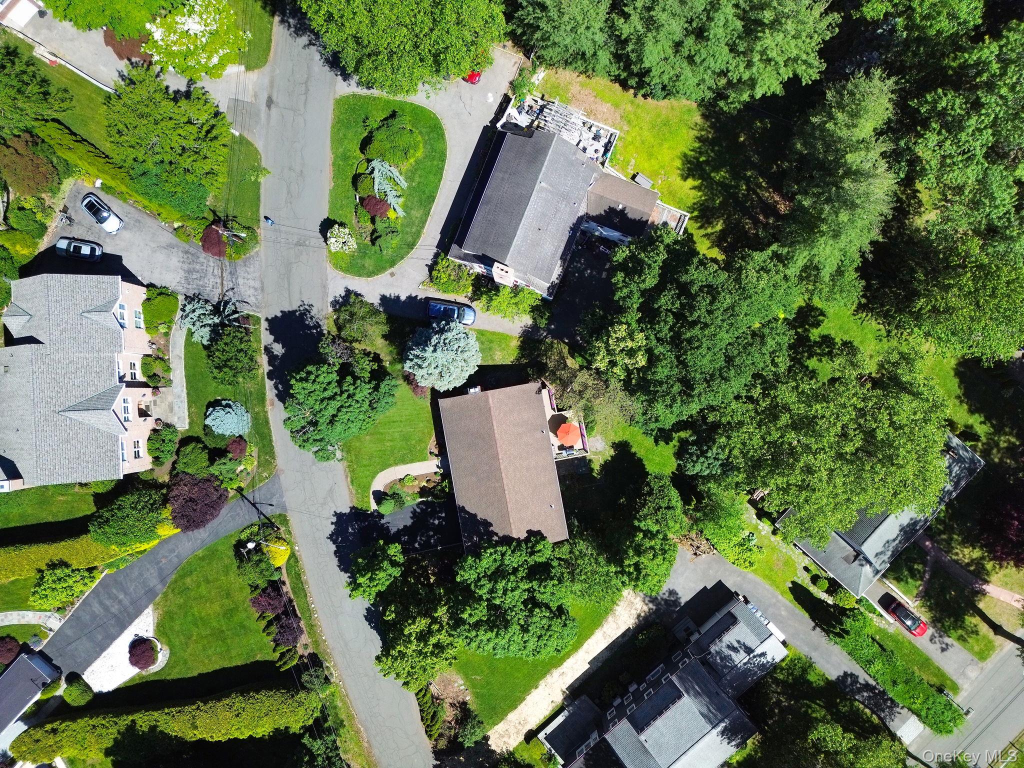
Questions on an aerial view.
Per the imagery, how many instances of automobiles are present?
5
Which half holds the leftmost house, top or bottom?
bottom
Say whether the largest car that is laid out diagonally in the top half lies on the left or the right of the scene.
left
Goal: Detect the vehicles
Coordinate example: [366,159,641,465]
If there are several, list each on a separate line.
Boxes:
[425,300,477,328]
[55,235,108,263]
[885,597,930,641]
[81,191,127,236]
[463,64,483,87]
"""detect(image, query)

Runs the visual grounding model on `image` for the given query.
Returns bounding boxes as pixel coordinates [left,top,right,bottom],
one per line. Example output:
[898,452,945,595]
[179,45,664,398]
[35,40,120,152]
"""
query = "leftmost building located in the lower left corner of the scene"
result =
[0,649,63,736]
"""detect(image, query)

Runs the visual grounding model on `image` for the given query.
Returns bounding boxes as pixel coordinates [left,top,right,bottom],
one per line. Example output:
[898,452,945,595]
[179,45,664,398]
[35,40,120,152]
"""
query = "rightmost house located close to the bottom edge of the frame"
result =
[563,580,788,768]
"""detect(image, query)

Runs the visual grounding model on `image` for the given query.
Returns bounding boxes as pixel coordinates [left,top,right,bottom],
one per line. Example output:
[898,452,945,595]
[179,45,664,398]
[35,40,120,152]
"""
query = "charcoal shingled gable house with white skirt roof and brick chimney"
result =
[449,130,661,301]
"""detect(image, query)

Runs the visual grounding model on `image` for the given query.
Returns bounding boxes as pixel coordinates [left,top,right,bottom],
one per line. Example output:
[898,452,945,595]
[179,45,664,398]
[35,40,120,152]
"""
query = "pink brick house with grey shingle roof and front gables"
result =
[0,273,153,490]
